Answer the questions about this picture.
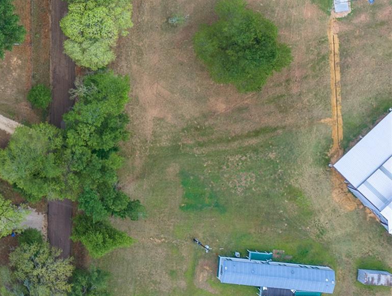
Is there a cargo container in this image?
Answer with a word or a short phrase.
No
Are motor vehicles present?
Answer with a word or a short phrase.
No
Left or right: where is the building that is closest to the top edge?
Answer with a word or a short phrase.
right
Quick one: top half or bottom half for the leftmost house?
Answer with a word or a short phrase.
bottom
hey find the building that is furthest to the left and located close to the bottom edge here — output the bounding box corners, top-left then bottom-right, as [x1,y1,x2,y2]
[215,255,336,293]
